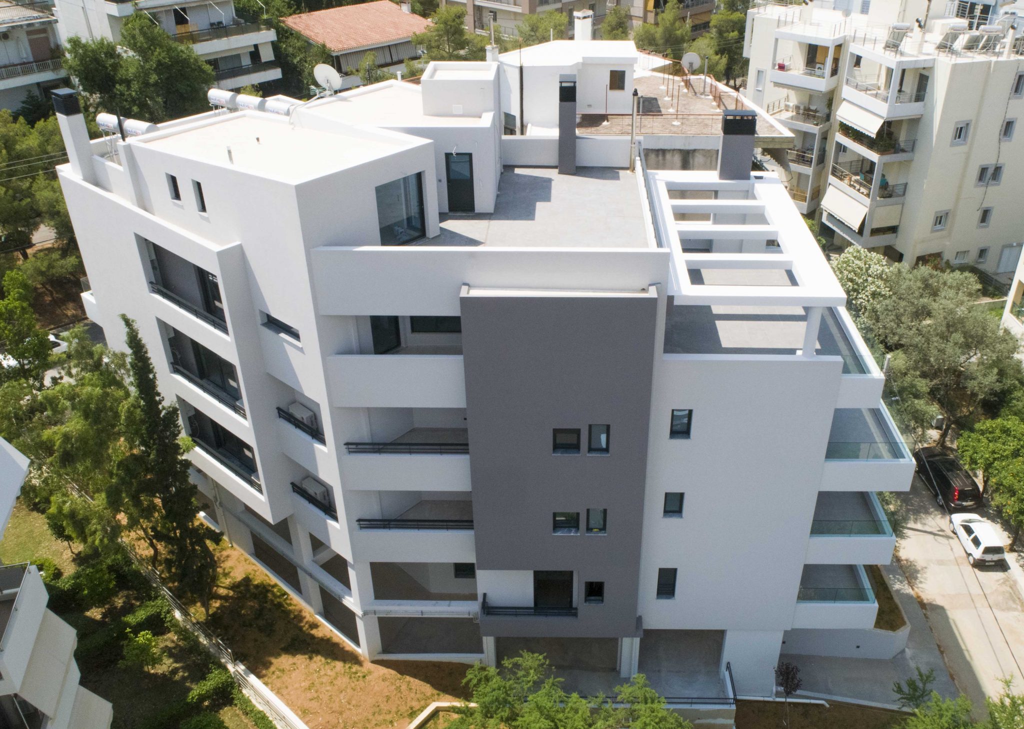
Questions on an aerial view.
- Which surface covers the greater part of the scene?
buildings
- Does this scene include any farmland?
No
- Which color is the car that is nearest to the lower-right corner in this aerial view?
white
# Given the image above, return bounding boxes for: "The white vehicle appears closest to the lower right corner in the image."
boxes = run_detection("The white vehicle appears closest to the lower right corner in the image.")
[944,515,1008,575]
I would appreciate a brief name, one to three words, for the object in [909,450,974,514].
car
